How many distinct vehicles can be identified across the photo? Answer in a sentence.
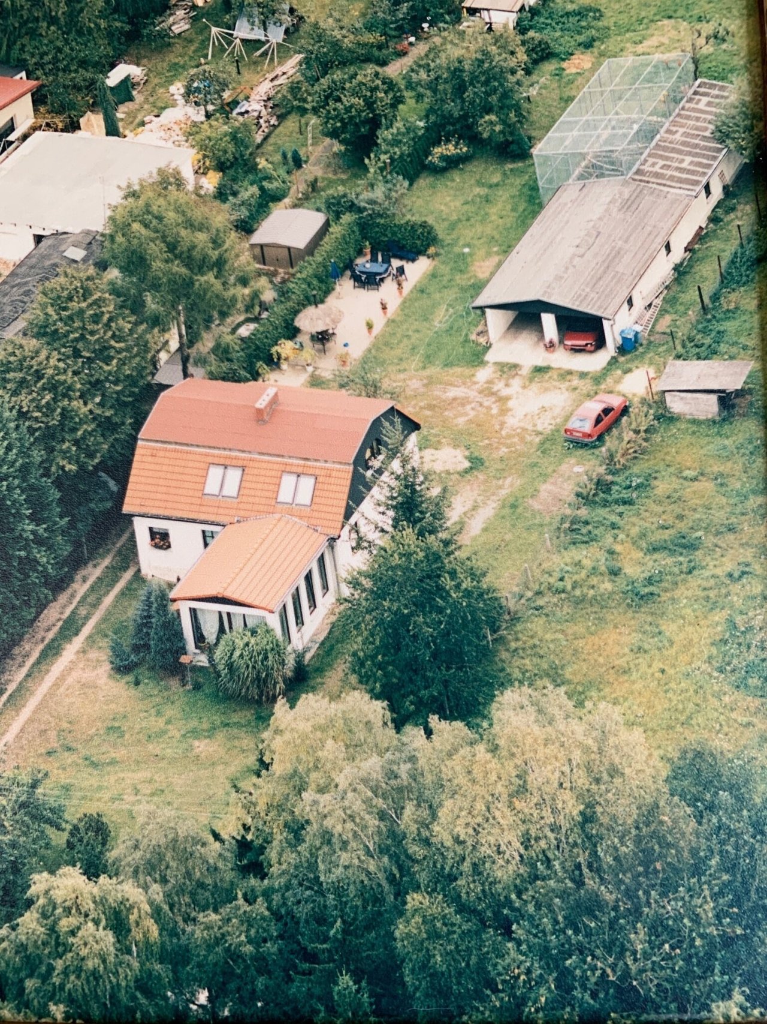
The picture shows 2 vehicles.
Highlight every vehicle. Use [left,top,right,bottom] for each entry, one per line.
[566,392,630,446]
[570,321,607,351]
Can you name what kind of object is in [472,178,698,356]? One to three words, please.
building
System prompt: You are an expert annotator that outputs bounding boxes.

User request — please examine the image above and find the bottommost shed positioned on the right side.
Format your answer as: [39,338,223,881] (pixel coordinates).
[658,361,753,418]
